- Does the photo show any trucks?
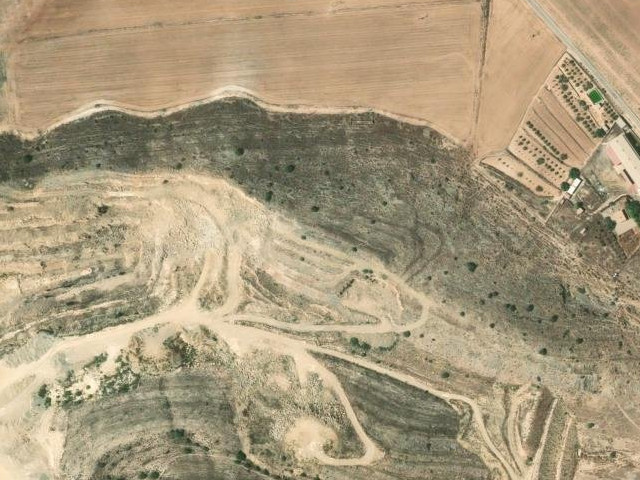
No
